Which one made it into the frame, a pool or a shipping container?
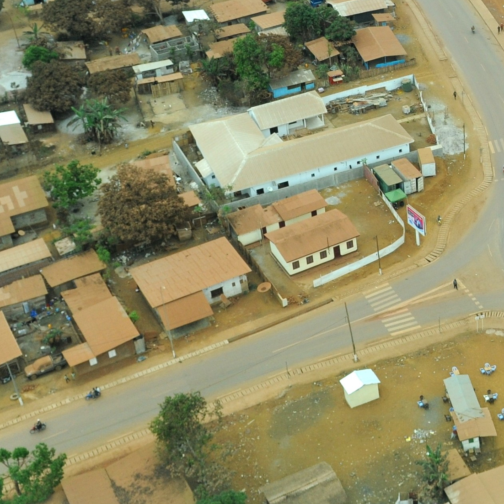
shipping container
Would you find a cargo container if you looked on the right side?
Yes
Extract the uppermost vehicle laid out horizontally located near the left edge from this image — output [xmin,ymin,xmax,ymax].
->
[24,355,67,378]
